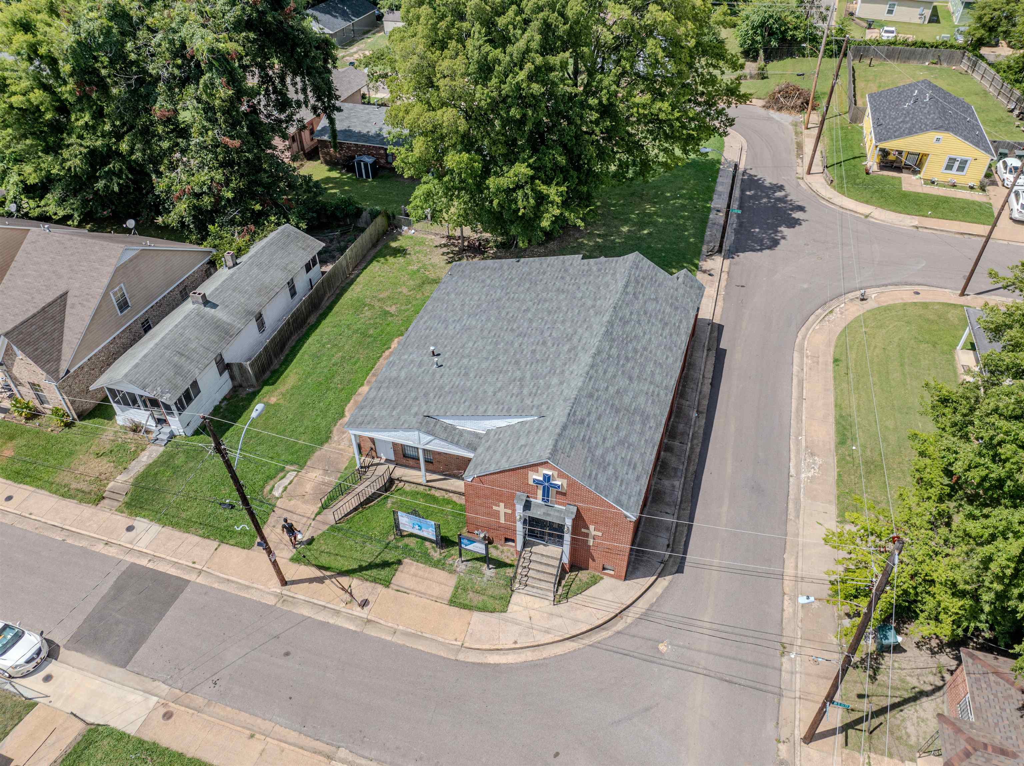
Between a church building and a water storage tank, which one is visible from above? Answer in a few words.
church building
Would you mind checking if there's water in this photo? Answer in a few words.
No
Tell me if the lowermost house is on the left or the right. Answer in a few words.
right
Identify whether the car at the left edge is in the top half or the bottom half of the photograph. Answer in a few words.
bottom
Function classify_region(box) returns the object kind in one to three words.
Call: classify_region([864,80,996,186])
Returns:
house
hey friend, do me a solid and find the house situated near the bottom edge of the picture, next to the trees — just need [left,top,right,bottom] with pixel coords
[918,645,1024,766]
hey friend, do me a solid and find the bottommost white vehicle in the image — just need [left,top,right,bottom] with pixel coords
[0,622,48,686]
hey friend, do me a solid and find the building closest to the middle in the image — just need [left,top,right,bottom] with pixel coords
[321,251,705,604]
